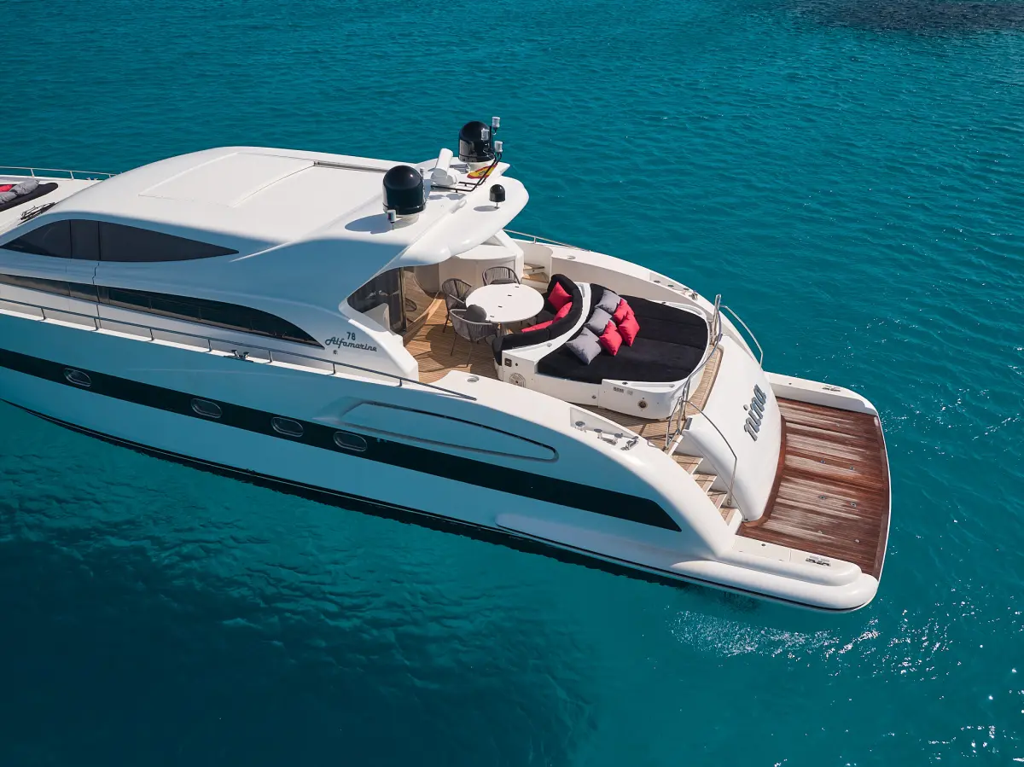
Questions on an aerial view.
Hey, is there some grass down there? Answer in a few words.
No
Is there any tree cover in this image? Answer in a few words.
No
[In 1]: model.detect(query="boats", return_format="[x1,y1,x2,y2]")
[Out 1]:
[0,120,891,620]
